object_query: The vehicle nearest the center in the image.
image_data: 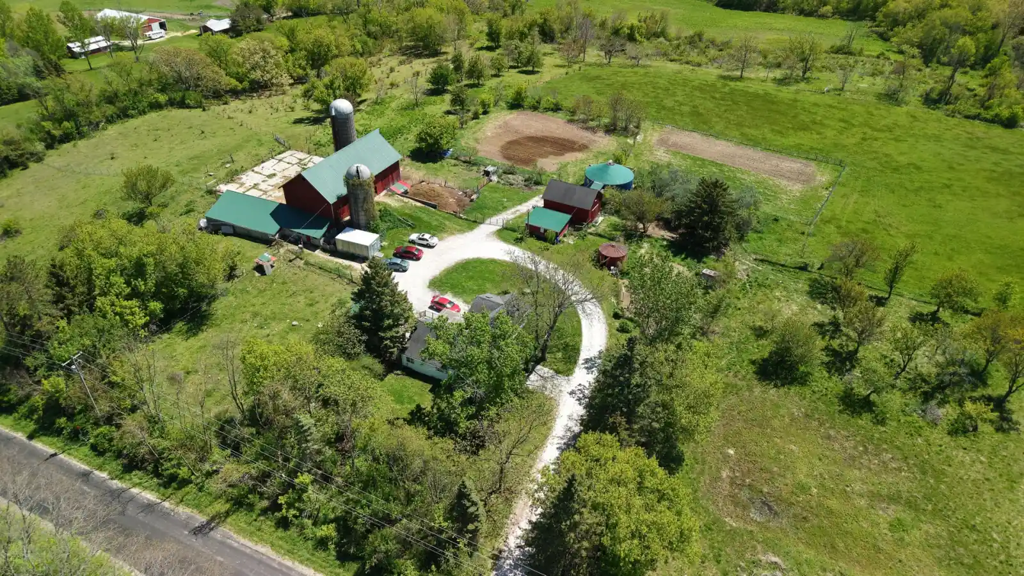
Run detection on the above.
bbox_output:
[427,294,458,310]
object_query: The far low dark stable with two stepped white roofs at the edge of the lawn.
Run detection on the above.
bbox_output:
[73,40,112,61]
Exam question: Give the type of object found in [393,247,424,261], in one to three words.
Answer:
car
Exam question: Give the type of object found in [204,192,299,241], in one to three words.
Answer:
shed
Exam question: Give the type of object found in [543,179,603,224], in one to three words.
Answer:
building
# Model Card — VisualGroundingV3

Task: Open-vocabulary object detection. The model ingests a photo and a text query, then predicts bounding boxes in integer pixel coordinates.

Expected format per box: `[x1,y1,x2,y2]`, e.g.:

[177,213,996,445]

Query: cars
[409,234,438,248]
[393,247,424,261]
[427,294,458,310]
[385,258,411,272]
